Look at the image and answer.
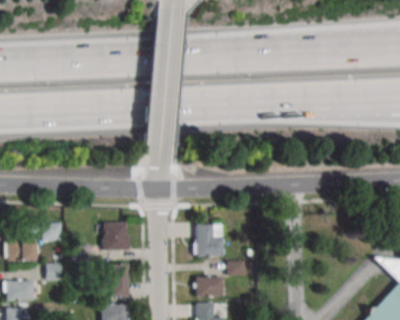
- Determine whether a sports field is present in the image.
No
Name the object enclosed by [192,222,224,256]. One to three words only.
house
